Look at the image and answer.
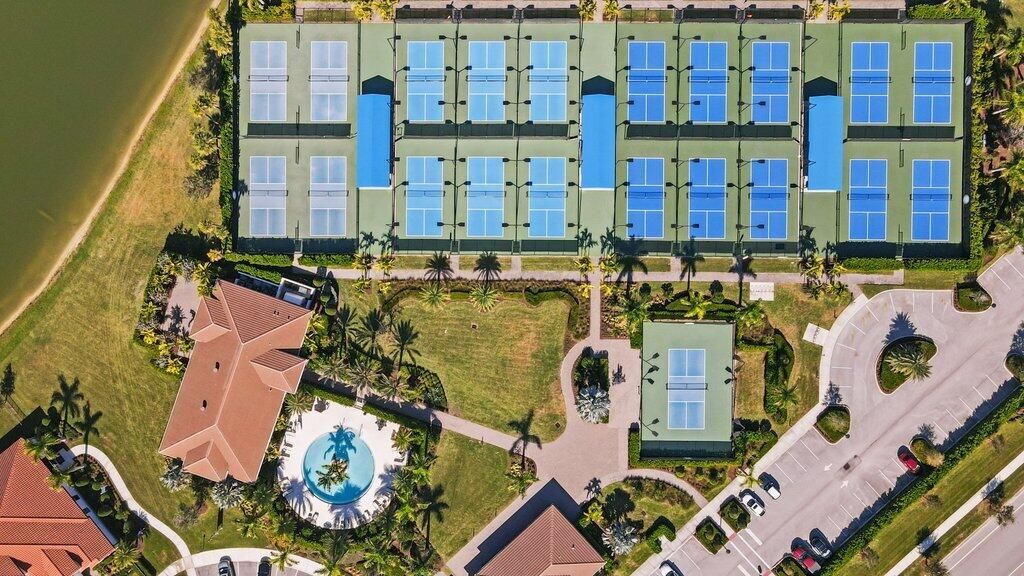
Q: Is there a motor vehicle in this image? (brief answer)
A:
Yes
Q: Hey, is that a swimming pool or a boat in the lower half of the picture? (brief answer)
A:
swimming pool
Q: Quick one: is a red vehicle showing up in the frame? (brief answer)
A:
Yes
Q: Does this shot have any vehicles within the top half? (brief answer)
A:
No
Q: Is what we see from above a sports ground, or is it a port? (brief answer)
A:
sports ground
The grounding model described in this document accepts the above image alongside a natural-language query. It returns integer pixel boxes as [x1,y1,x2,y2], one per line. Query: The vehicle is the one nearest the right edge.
[895,448,922,475]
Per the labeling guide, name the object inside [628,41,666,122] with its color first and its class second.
blue sports court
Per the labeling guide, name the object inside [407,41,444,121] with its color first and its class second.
blue sports court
